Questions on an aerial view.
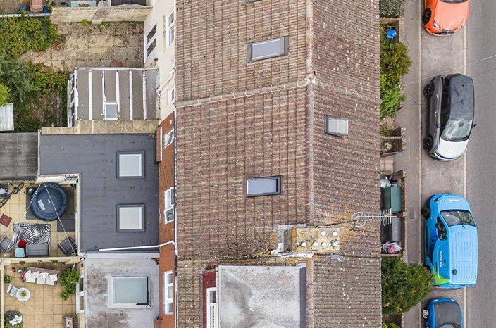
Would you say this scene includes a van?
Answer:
Yes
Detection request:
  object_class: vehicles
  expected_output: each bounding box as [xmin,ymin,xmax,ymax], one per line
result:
[421,0,473,36]
[422,70,482,164]
[418,295,467,328]
[423,190,488,292]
